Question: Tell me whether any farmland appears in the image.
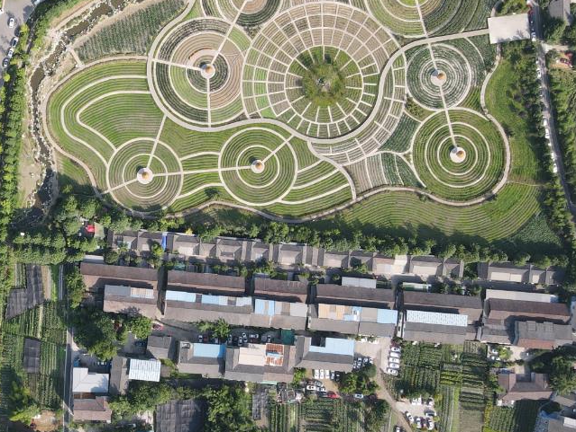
Yes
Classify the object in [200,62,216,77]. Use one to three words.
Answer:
gazebo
